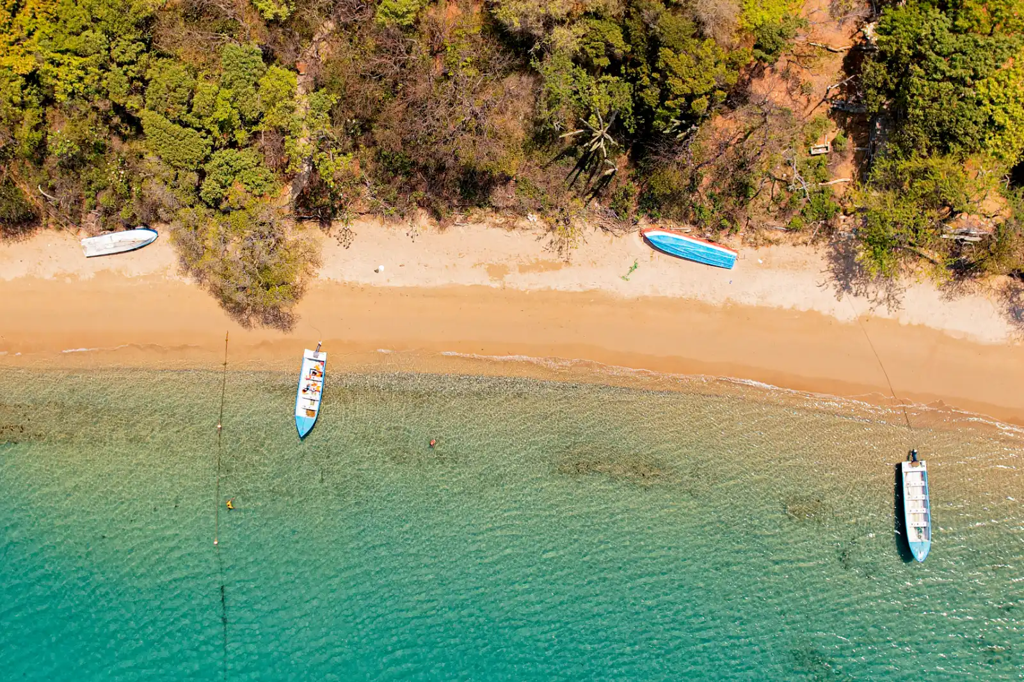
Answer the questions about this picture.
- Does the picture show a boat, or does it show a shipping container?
boat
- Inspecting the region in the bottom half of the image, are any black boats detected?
No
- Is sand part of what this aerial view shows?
Yes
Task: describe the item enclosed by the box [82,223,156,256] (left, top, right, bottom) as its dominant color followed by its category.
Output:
white boat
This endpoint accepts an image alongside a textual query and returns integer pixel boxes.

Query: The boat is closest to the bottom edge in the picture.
[901,448,933,564]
